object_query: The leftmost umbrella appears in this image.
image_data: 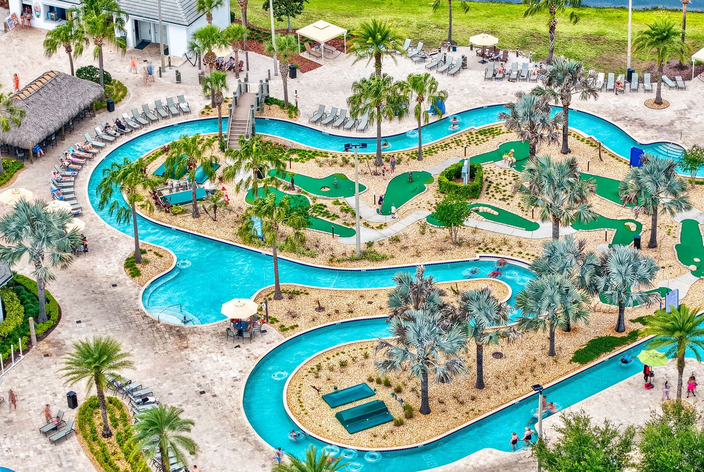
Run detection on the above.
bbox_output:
[0,186,34,216]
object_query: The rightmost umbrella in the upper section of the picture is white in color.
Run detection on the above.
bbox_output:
[467,33,499,51]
